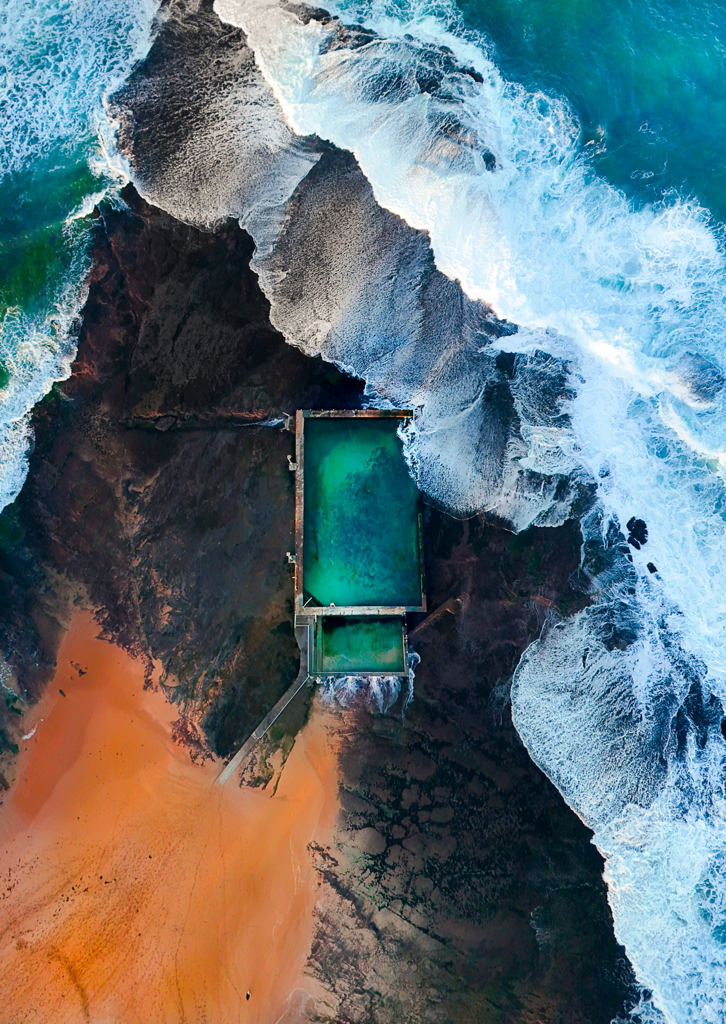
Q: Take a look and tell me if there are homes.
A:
No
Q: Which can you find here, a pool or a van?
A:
pool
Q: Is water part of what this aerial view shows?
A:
Yes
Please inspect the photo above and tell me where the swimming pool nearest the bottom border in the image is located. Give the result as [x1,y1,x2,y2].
[309,613,409,678]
